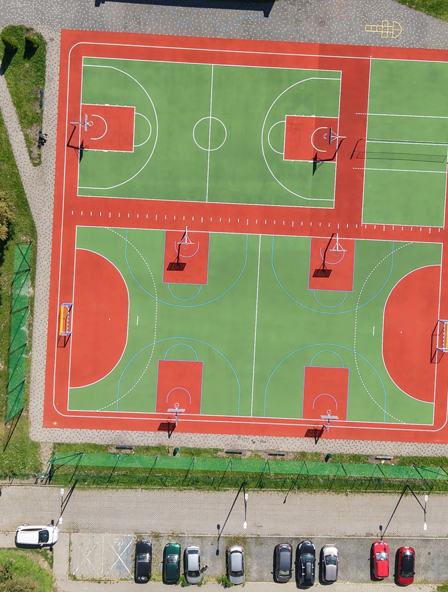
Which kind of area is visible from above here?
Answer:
sports ground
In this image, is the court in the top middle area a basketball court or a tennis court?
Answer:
basketball court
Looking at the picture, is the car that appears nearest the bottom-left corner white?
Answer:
Yes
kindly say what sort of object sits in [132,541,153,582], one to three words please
car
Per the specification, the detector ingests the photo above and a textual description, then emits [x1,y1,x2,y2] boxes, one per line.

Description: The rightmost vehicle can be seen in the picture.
[396,546,416,584]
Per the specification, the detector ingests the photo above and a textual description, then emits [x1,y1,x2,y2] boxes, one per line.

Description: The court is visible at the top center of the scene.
[76,56,341,208]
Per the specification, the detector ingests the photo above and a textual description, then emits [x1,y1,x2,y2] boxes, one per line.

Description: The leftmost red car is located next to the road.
[372,539,391,579]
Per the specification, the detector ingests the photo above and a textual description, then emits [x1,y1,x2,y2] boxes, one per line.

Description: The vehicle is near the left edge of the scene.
[16,525,58,548]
